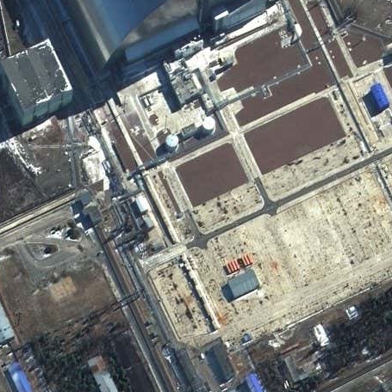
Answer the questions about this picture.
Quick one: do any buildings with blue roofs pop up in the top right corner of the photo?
Yes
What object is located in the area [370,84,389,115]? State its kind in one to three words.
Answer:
building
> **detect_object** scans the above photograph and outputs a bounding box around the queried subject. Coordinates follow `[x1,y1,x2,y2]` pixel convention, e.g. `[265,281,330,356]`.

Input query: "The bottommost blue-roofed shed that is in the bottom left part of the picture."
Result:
[8,363,32,392]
